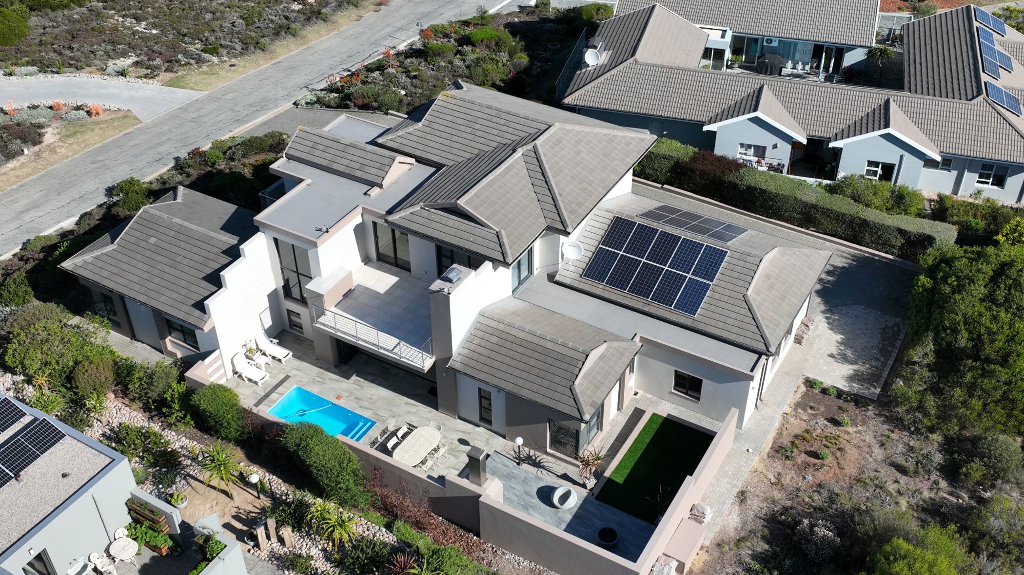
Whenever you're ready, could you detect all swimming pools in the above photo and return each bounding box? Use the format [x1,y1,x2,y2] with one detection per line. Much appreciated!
[268,385,378,443]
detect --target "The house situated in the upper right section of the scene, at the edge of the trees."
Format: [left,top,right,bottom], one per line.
[562,0,1024,202]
